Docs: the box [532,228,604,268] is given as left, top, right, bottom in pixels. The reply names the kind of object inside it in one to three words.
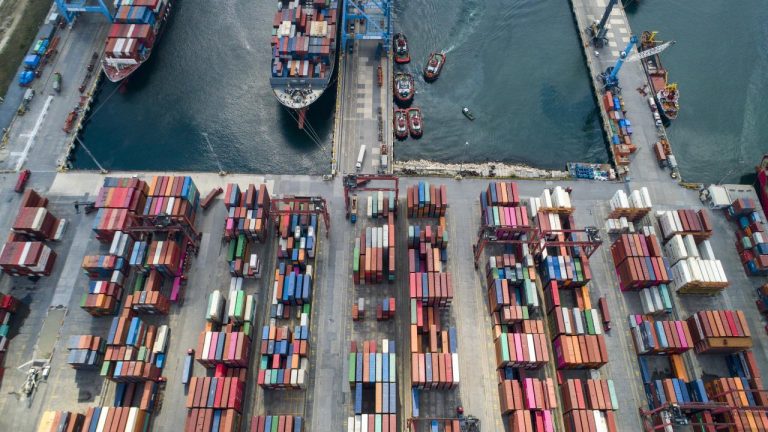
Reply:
container crane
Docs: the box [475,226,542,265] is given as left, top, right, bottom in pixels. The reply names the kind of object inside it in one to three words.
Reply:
container crane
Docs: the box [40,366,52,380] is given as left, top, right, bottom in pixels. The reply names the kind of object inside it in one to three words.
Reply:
vehicle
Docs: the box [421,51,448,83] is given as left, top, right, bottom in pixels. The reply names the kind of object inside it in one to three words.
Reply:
boat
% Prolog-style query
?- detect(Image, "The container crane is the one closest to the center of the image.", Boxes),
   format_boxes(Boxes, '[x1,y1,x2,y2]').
[344,176,400,215]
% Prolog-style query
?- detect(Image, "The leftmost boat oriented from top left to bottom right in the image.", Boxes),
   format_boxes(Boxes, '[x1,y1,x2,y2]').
[459,107,474,123]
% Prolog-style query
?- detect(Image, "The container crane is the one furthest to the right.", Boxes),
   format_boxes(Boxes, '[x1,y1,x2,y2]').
[703,392,768,427]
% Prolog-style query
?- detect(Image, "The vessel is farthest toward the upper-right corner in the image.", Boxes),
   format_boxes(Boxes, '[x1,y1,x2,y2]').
[645,27,688,122]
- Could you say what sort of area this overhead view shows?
port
